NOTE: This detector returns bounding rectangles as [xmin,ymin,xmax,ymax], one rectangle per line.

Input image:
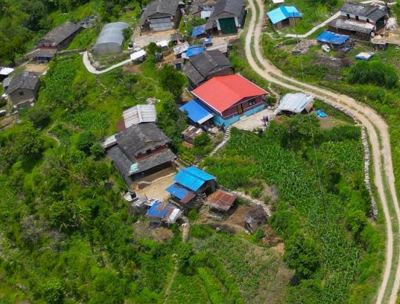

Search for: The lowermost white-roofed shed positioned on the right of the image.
[277,89,314,125]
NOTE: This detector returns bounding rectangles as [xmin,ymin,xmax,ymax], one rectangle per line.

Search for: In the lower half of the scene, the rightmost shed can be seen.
[202,185,243,223]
